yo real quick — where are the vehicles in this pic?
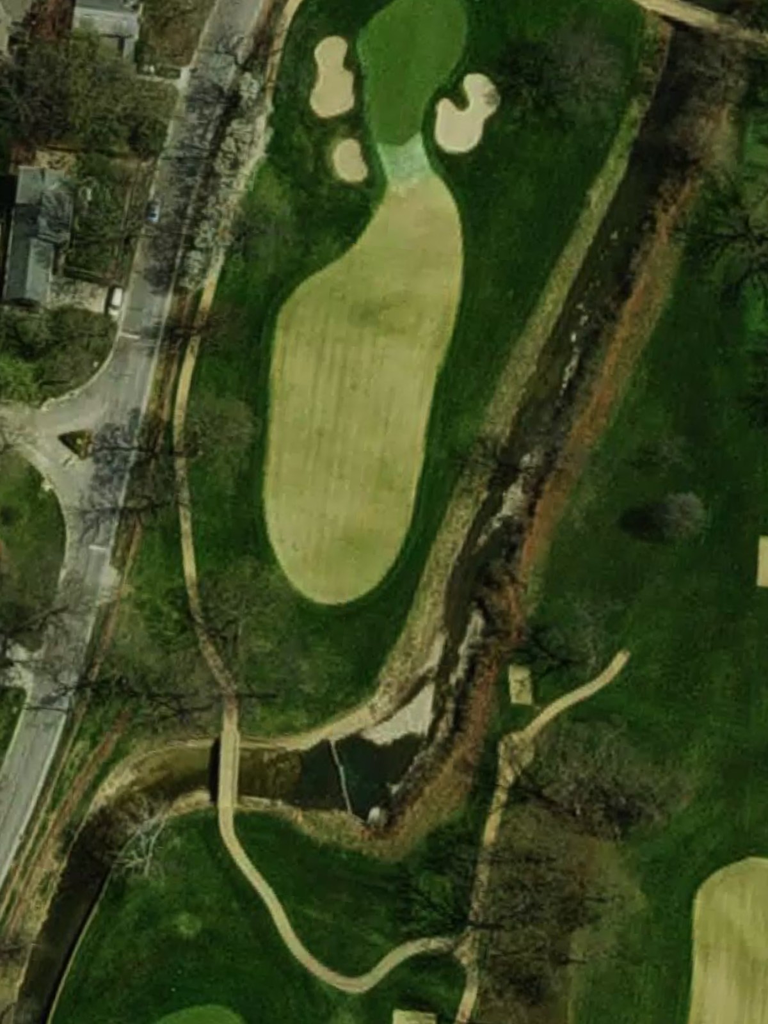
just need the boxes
[108,286,121,313]
[147,199,161,223]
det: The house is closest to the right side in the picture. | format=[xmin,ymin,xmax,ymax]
[72,0,136,59]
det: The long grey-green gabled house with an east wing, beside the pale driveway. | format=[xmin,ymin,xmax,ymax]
[5,165,77,304]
